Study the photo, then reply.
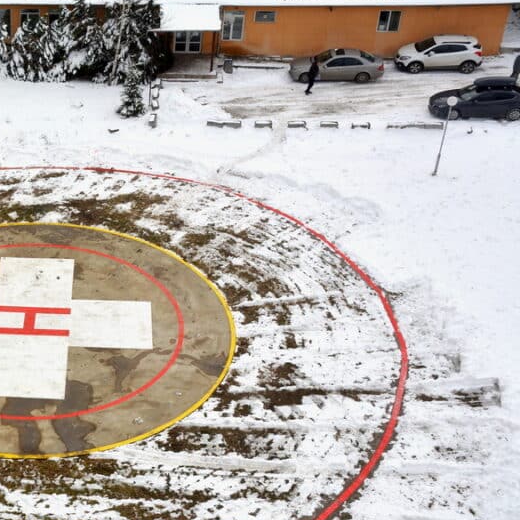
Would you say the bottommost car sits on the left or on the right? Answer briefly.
right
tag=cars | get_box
[430,82,520,120]
[395,33,485,73]
[289,46,385,82]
